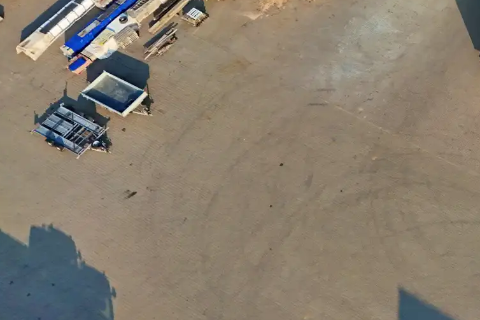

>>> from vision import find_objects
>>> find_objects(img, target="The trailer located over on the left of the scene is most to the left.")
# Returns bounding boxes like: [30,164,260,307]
[32,104,111,161]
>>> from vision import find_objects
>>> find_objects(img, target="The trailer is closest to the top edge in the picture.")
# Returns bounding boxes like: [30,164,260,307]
[81,70,156,119]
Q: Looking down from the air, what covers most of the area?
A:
paved ground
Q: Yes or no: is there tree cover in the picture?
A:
No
